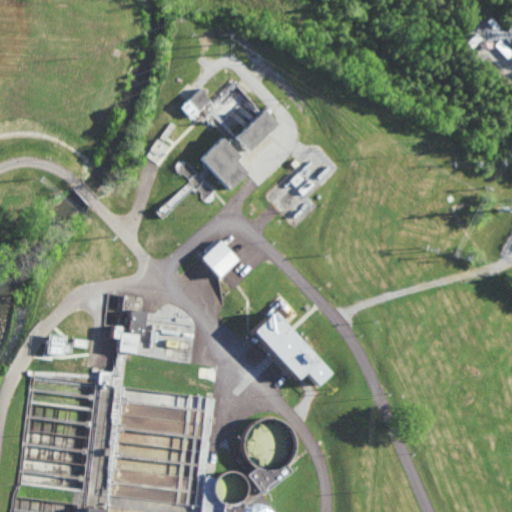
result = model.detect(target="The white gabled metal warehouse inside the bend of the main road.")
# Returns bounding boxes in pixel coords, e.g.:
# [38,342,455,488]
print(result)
[203,240,240,280]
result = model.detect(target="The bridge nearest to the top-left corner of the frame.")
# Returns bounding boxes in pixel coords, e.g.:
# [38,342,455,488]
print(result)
[65,176,105,216]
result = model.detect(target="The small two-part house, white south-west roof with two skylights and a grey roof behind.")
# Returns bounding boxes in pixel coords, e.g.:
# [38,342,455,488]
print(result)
[182,89,210,122]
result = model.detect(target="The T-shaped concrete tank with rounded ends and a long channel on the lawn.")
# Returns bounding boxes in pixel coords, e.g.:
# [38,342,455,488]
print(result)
[157,162,226,220]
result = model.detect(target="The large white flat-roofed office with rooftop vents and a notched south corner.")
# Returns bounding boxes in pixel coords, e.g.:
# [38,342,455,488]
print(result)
[256,311,334,386]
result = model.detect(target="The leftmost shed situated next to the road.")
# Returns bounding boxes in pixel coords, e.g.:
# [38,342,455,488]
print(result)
[46,334,74,356]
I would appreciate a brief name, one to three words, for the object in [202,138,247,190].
building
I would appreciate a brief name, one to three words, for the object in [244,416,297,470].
storage tank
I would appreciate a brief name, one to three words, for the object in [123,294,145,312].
building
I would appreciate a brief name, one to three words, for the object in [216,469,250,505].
storage tank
